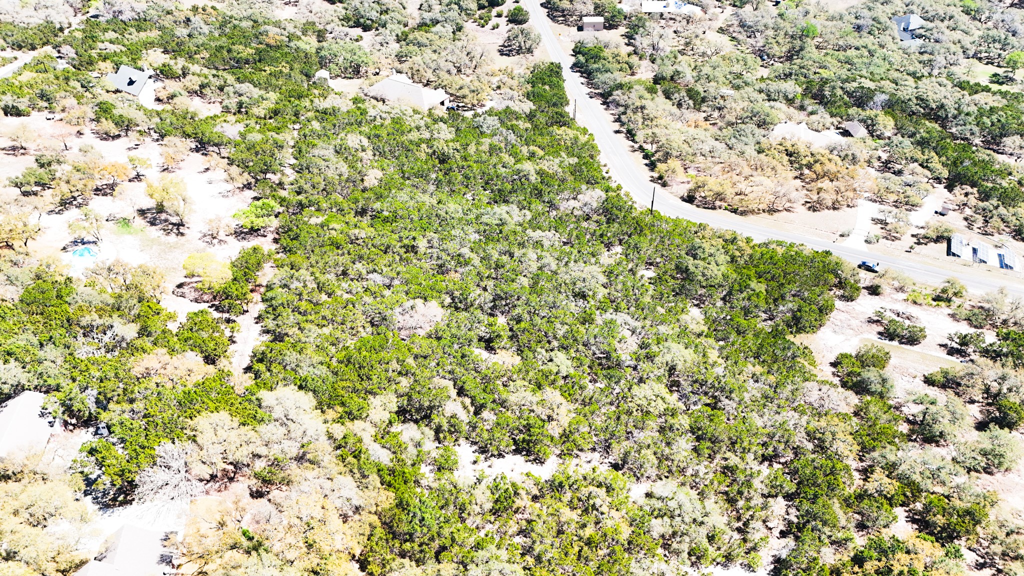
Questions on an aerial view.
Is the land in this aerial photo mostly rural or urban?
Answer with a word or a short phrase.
rural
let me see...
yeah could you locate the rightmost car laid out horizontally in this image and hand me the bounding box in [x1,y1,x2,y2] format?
[856,263,881,275]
